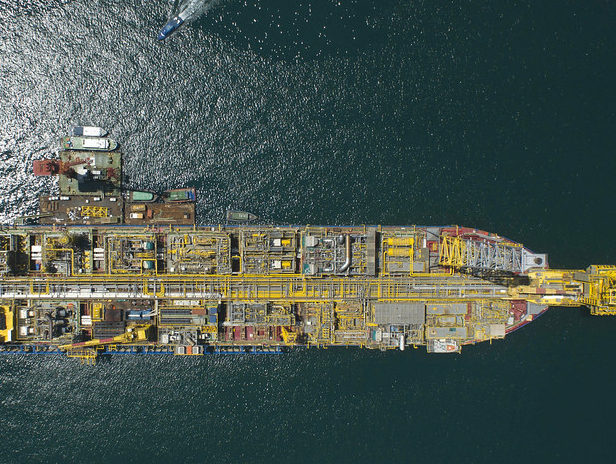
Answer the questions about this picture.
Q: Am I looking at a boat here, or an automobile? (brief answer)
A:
boat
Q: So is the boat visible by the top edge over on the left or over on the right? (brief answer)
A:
left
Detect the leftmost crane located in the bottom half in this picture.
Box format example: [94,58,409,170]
[58,323,148,348]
